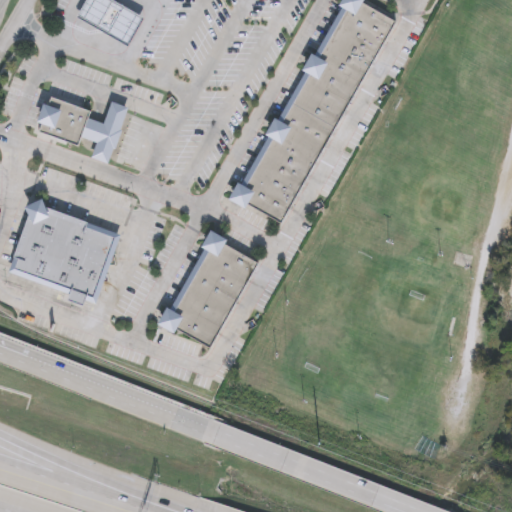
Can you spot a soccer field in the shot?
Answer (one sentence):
Yes, this view includes a soccer field.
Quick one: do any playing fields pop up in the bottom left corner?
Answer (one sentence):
No, I can find no playing field in the bottom left corner.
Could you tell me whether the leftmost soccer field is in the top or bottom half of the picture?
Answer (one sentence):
The leftmost soccer field is in the bottom half of the image.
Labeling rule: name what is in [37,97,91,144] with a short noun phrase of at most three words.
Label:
building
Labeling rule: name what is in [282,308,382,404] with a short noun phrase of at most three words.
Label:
soccer field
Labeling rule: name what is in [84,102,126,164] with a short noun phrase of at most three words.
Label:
building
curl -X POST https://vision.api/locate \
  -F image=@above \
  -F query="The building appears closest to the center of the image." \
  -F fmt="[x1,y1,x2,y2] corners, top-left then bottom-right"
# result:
[158,231,258,346]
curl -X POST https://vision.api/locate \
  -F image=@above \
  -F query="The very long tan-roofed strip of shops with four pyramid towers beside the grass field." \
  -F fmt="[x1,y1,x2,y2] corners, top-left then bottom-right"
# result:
[229,0,396,221]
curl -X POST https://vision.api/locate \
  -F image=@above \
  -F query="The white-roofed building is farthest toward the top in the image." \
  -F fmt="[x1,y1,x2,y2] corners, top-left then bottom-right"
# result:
[78,0,144,45]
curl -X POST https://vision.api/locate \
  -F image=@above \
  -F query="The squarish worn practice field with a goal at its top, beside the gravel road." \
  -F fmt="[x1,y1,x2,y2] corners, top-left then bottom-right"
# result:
[384,284,443,346]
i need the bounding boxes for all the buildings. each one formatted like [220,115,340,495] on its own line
[229,0,396,221]
[84,102,126,164]
[158,231,258,346]
[37,97,91,144]
[8,200,120,309]
[78,0,144,45]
